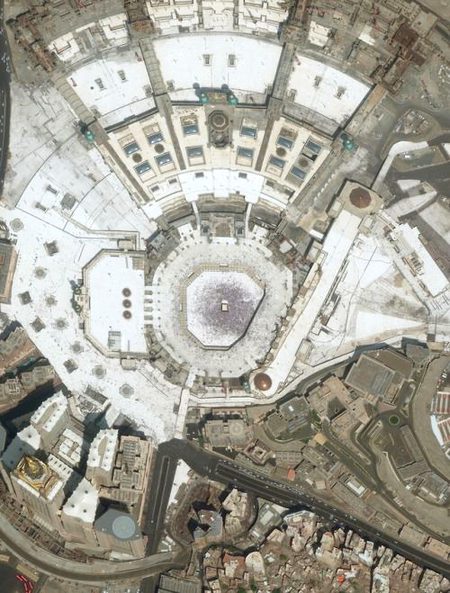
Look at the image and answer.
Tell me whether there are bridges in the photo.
Yes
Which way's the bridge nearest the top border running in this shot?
on a diagonal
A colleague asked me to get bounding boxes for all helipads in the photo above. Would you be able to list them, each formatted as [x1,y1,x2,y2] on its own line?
[112,516,136,540]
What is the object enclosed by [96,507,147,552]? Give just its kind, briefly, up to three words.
building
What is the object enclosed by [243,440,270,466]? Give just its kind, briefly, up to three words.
house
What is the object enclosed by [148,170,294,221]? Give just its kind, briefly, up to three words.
building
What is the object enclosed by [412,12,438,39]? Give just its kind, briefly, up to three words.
shed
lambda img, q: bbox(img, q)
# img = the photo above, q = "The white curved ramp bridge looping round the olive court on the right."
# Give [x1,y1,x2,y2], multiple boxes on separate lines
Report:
[370,139,433,189]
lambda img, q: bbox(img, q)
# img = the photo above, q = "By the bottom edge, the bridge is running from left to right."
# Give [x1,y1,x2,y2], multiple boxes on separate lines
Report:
[0,511,189,572]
